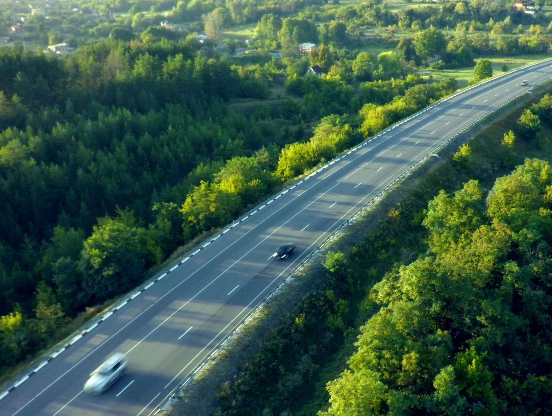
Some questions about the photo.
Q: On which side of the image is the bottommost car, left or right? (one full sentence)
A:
You can find the bottommost car on the left side of the picture.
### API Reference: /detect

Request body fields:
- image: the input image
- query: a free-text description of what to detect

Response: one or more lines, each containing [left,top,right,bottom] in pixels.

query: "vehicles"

[272,240,296,259]
[520,78,530,86]
[87,356,129,392]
